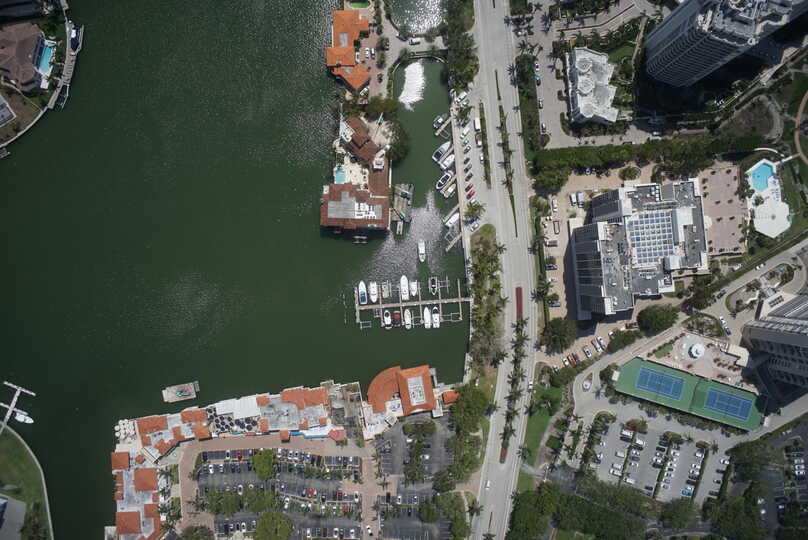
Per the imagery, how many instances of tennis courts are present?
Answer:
two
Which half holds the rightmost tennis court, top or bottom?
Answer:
bottom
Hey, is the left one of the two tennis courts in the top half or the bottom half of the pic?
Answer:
bottom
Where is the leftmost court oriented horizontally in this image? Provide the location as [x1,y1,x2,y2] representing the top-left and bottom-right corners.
[615,357,701,413]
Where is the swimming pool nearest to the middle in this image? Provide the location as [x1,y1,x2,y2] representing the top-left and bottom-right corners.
[334,166,346,184]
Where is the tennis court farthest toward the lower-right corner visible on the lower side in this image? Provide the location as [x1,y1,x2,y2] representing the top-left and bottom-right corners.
[693,377,767,432]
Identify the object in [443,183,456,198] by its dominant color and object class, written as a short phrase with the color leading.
white boat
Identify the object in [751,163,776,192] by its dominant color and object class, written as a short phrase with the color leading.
blue swimming pool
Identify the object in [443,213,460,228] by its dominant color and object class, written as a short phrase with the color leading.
white boat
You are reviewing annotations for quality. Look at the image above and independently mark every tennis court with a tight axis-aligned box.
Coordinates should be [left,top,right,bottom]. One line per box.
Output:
[693,377,767,432]
[615,357,701,413]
